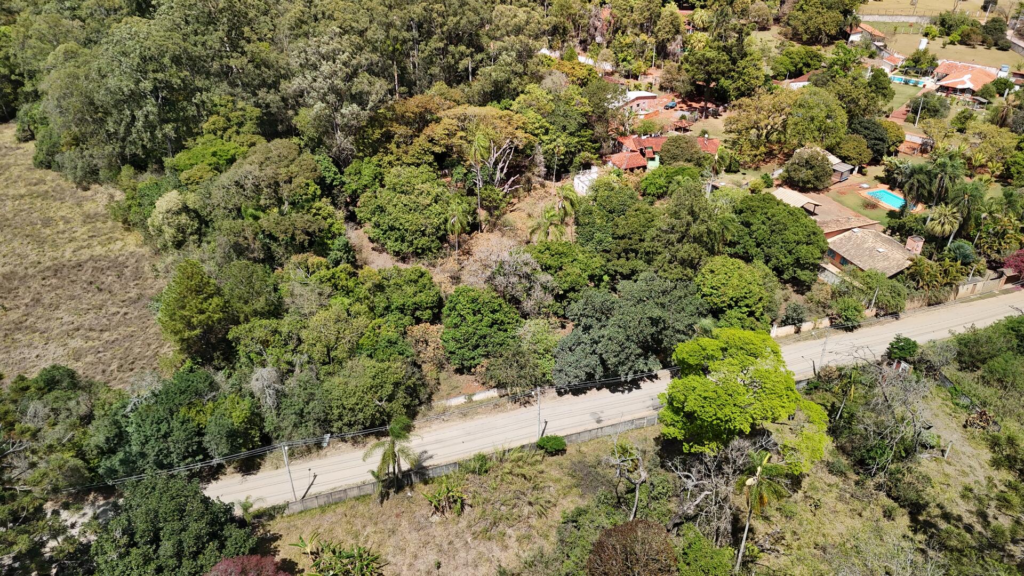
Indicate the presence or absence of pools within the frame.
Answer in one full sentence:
Yes, I can see a pool in this picture.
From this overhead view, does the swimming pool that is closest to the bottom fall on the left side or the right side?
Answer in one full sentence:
It is on the right.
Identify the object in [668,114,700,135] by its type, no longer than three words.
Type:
gazebo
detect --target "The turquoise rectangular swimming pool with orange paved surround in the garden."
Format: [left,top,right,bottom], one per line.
[858,183,921,212]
